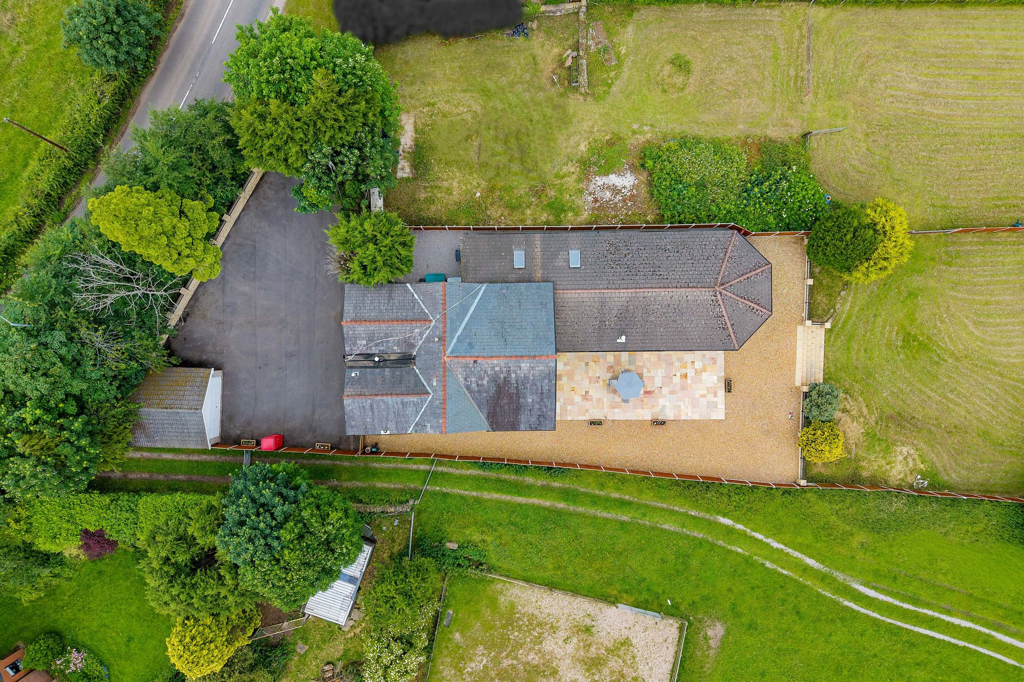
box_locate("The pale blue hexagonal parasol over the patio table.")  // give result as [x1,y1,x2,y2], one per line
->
[615,372,645,398]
